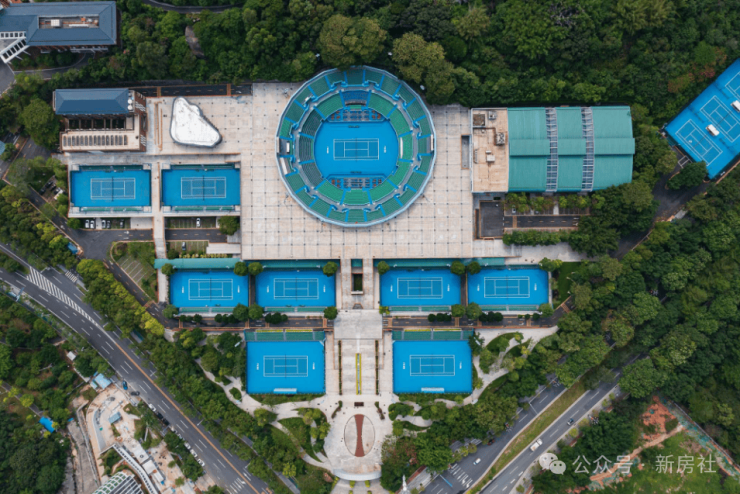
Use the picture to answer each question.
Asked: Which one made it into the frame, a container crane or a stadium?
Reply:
stadium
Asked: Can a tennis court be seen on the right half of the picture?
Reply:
Yes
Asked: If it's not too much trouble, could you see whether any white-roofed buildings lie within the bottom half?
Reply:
Yes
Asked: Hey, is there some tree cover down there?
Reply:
Yes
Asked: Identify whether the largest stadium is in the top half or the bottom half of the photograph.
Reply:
top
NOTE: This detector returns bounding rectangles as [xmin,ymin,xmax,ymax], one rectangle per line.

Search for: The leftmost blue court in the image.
[70,170,150,206]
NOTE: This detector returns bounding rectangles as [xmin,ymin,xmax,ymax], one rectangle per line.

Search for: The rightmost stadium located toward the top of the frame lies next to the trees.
[275,66,436,226]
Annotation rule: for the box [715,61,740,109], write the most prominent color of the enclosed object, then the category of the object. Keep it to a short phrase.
blue tennis court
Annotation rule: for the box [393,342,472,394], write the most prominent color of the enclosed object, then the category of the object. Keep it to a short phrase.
blue tennis court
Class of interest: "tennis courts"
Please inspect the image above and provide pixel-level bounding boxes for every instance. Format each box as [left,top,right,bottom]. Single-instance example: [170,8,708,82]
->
[163,169,238,205]
[387,269,460,306]
[689,84,740,155]
[247,342,324,394]
[393,342,472,394]
[469,269,548,305]
[715,61,740,109]
[171,270,246,307]
[70,170,150,206]
[257,270,335,306]
[665,108,733,176]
